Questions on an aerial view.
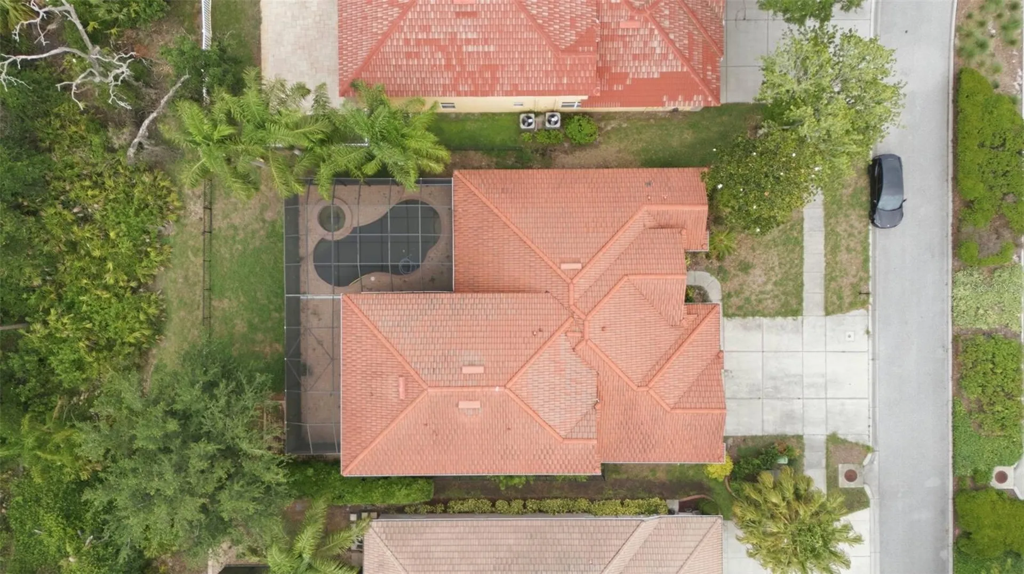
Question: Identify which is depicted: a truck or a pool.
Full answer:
Looking from above, you can make out a pool.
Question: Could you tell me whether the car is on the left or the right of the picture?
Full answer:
The car sits on the right side.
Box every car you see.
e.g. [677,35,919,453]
[868,154,907,227]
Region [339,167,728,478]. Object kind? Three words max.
house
